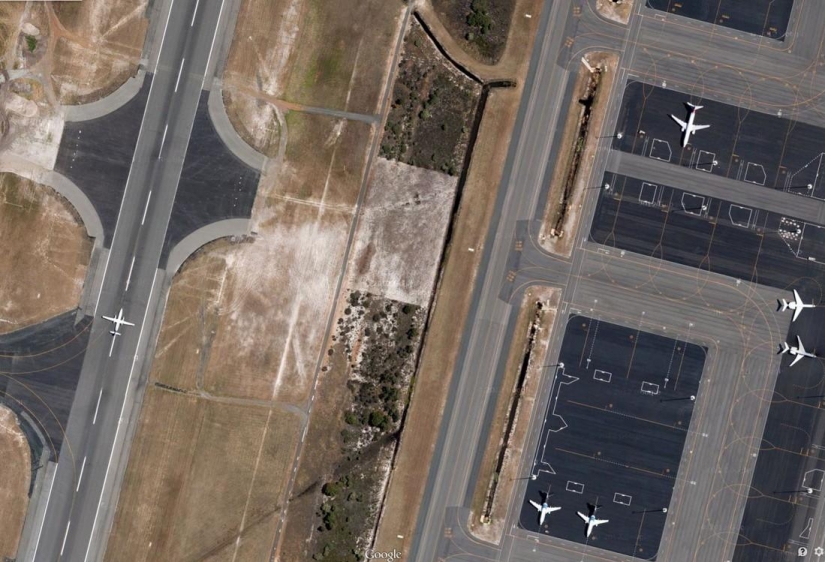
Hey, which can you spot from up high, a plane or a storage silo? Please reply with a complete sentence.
This aerial view contains a plane.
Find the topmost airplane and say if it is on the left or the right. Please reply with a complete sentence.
The topmost airplane appears in the right half of the scene.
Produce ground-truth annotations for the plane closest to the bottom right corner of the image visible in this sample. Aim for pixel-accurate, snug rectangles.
[783,335,817,366]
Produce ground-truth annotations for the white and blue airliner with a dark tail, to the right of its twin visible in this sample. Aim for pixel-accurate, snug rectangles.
[578,497,609,537]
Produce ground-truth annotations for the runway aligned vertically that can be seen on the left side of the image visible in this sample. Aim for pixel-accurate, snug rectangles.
[33,0,225,562]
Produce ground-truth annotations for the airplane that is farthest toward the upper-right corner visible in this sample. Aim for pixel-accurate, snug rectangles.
[672,102,711,147]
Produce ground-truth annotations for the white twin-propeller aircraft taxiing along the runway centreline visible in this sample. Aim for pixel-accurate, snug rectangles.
[102,308,135,336]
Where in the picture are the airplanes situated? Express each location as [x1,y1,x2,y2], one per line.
[783,290,816,321]
[532,485,562,525]
[783,335,817,366]
[672,102,711,147]
[578,497,609,537]
[102,308,135,336]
